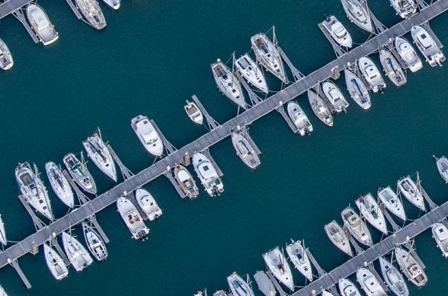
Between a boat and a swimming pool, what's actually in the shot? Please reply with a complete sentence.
The image shows a boat.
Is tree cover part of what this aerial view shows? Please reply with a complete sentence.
No, no tree cover is visible.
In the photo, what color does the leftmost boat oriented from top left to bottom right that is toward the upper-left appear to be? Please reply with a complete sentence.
In this view, the leftmost boat oriented from top left to bottom right that is toward the upper-left is white.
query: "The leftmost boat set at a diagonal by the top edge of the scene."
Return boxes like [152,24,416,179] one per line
[18,0,59,48]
